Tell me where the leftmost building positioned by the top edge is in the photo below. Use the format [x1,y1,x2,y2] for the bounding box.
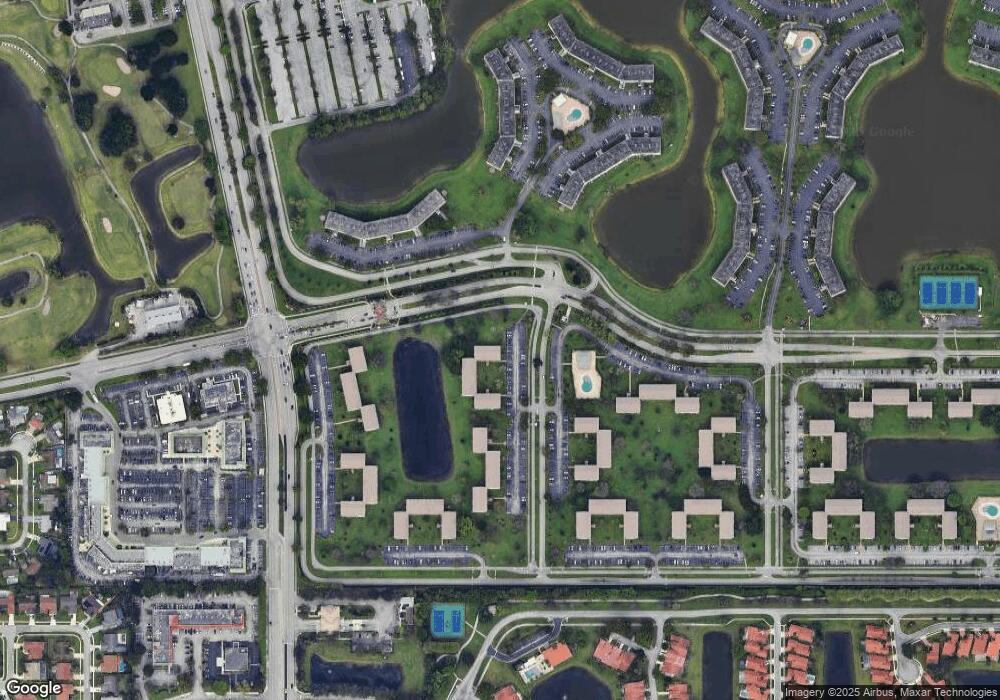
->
[80,4,112,29]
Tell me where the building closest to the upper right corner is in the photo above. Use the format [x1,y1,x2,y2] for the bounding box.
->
[970,42,1000,70]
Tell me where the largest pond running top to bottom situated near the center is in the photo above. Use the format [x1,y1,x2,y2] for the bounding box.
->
[395,339,452,479]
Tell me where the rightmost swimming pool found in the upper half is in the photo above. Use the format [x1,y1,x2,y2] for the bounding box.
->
[784,30,821,69]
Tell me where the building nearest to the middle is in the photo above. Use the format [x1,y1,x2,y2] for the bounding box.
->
[462,346,501,409]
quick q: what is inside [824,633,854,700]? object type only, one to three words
pond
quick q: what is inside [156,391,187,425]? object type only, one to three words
building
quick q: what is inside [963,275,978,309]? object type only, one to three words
tennis court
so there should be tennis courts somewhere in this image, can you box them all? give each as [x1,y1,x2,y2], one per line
[431,603,450,638]
[948,275,963,309]
[935,275,948,309]
[963,275,978,309]
[920,275,935,309]
[450,603,466,638]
